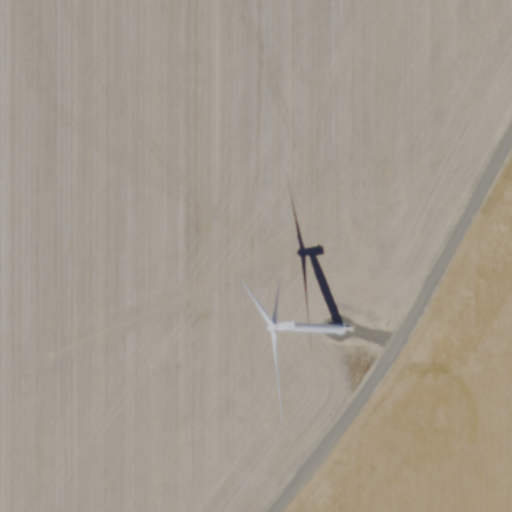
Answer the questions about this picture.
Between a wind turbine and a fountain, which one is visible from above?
wind turbine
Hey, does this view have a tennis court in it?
No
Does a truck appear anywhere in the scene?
No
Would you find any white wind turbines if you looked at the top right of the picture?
No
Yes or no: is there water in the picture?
No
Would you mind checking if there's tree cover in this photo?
No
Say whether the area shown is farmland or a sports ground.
farmland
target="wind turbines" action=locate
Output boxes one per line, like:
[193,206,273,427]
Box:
[244,280,349,417]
